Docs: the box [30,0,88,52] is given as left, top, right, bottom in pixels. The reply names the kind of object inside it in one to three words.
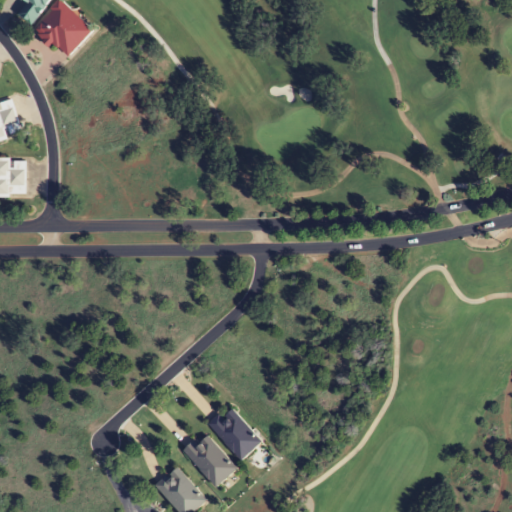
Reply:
house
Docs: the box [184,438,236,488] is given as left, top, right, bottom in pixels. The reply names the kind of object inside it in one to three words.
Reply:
house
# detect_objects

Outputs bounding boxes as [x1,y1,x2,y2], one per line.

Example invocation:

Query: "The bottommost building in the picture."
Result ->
[154,470,207,512]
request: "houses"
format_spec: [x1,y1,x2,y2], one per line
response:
[154,470,207,512]
[23,0,50,22]
[0,157,28,198]
[0,98,17,142]
[184,438,236,488]
[208,410,261,461]
[30,0,88,52]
